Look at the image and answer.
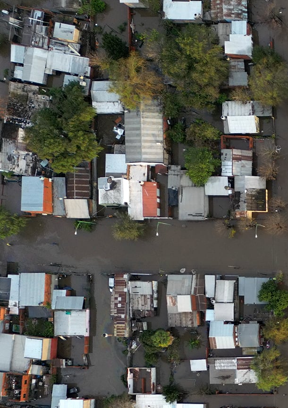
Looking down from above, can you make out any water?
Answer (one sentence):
Yes, some water is visible.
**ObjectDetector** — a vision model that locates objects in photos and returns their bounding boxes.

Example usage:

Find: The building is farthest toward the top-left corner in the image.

[7,8,54,49]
